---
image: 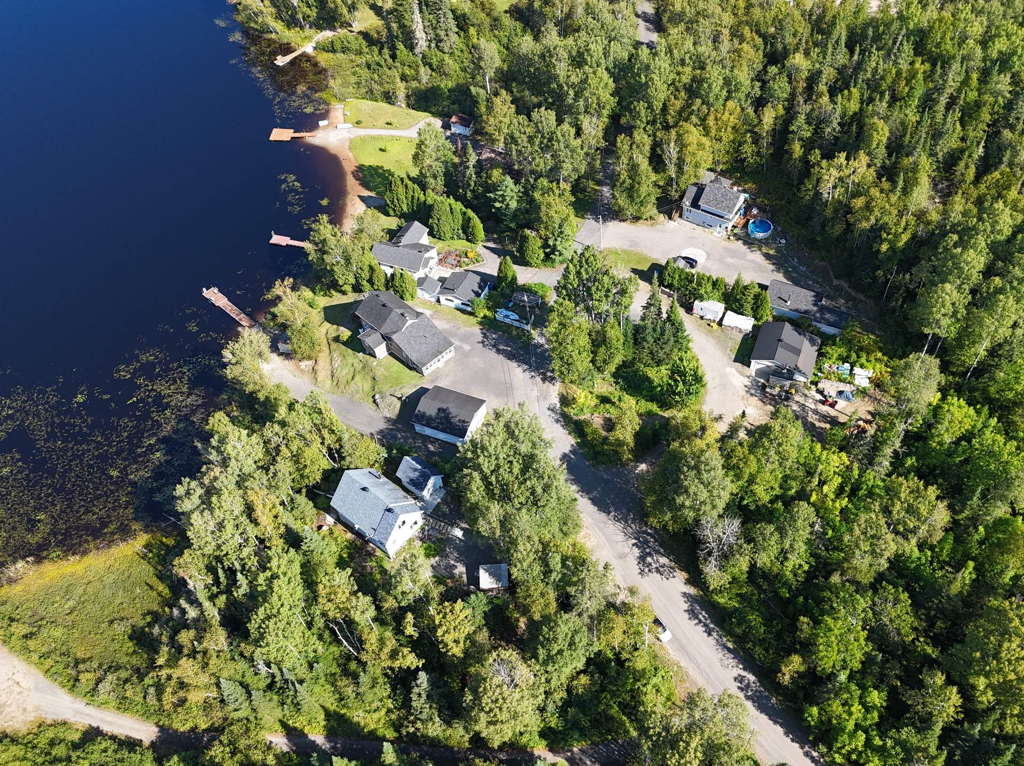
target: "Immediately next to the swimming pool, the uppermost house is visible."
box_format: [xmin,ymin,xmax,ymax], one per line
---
[683,183,747,237]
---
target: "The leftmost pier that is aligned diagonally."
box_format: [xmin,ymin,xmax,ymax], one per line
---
[199,285,260,330]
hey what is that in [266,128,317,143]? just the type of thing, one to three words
pier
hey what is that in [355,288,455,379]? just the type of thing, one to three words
house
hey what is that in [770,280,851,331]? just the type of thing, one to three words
building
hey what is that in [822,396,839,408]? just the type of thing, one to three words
vehicle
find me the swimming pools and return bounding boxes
[747,216,773,238]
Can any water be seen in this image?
Yes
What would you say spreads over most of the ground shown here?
trees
